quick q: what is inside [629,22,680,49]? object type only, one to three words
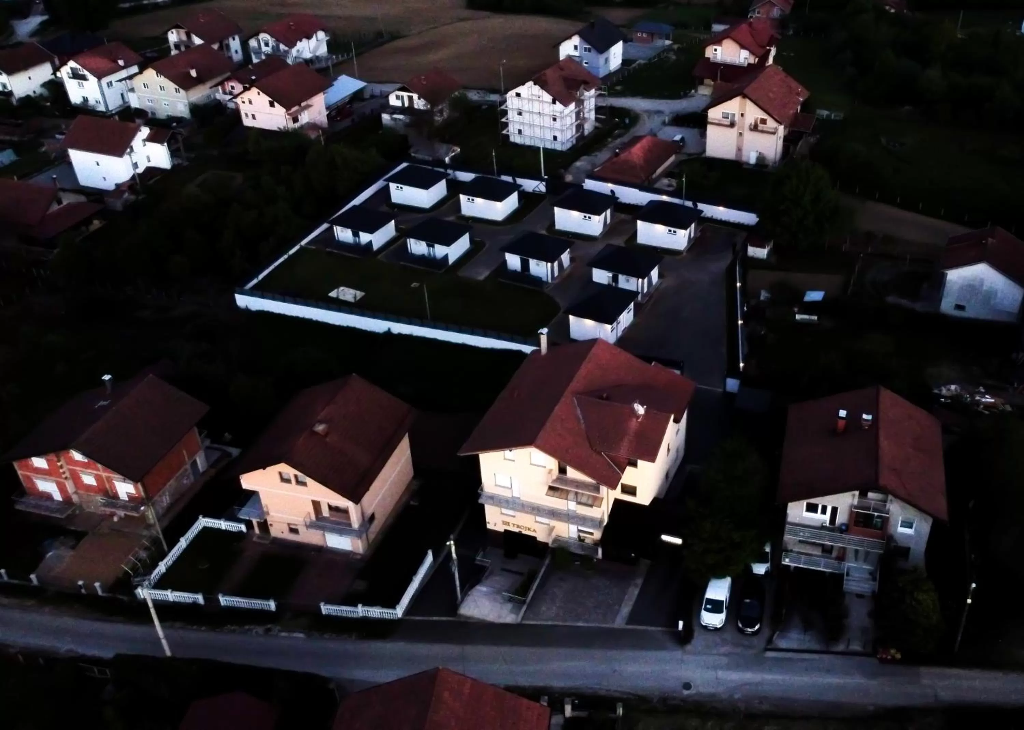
shed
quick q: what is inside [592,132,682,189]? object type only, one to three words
building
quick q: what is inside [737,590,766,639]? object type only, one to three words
car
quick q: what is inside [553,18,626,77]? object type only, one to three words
house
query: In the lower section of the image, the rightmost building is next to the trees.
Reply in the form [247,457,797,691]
[777,384,951,606]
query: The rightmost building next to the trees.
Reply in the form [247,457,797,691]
[938,225,1024,323]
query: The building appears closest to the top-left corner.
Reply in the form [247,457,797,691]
[0,41,56,100]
